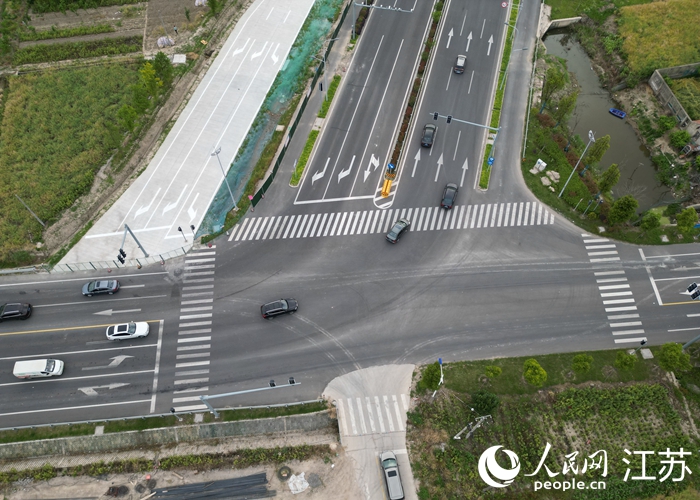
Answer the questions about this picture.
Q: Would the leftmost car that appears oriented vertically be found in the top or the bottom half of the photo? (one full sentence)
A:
The leftmost car that appears oriented vertically is in the bottom half of the image.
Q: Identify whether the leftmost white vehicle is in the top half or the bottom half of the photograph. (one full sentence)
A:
The leftmost white vehicle is in the bottom half of the image.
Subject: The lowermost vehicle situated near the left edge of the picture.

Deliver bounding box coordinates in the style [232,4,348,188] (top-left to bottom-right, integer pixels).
[8,358,59,381]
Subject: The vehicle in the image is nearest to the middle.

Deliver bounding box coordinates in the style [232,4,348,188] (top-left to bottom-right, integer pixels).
[383,217,412,246]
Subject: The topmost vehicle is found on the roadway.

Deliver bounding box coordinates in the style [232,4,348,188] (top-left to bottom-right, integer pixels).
[453,55,468,75]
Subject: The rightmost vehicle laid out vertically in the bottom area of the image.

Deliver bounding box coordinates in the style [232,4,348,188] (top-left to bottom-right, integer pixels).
[379,451,407,500]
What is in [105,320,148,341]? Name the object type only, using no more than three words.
car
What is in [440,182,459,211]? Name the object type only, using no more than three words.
car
